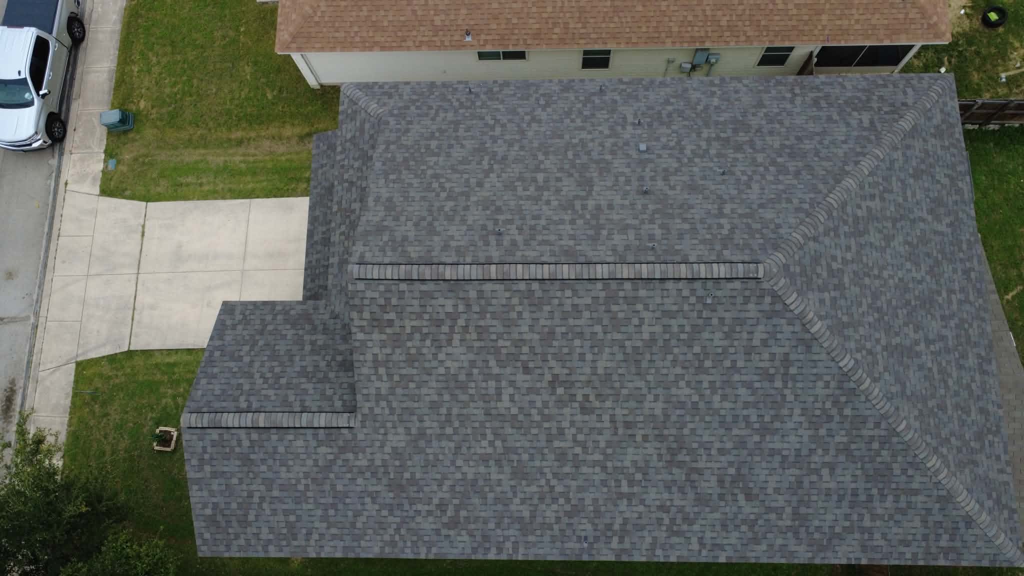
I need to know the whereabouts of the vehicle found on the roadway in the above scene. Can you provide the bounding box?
[0,0,83,157]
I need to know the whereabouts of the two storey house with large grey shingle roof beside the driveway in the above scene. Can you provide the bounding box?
[181,72,1024,570]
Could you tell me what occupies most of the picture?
buildings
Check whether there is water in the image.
No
